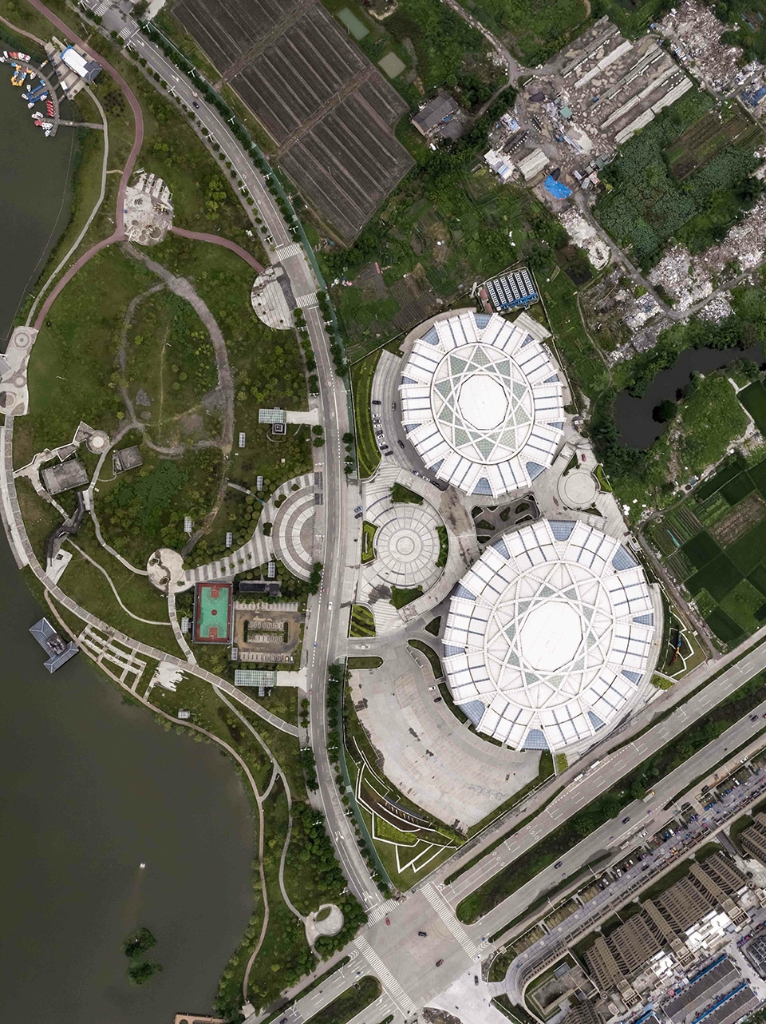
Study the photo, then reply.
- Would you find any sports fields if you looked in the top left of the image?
No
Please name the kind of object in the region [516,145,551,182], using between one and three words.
shed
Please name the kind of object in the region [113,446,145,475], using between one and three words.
house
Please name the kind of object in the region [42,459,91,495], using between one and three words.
building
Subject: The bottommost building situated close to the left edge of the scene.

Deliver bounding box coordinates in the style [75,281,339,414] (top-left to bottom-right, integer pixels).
[24,616,78,675]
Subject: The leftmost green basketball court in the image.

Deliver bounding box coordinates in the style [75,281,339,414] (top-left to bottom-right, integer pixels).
[188,582,233,645]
